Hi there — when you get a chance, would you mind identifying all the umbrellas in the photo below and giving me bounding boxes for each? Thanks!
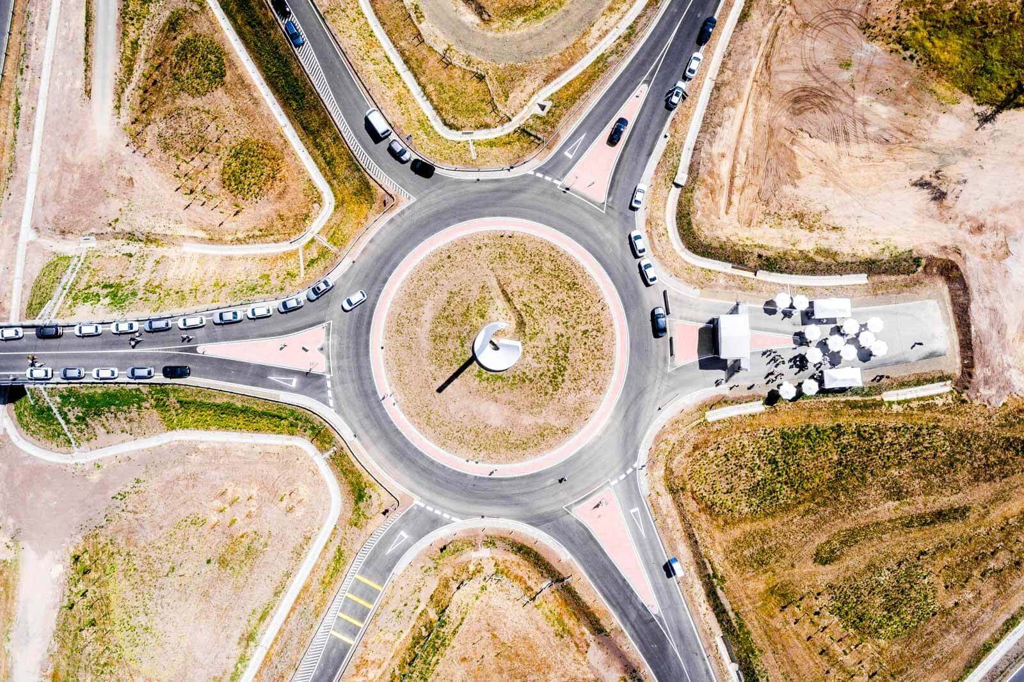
[803,324,821,341]
[826,336,843,351]
[804,347,822,363]
[868,339,888,356]
[840,319,858,335]
[864,317,883,333]
[774,292,791,308]
[801,379,818,395]
[779,382,796,398]
[791,294,809,310]
[857,331,875,347]
[839,345,857,361]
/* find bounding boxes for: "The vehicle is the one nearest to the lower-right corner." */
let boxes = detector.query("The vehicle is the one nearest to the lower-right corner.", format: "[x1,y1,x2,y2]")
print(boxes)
[664,554,684,581]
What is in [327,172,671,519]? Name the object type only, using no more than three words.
roundabout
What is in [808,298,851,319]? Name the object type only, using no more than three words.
tent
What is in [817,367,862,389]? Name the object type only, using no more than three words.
tent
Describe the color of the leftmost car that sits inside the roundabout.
white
